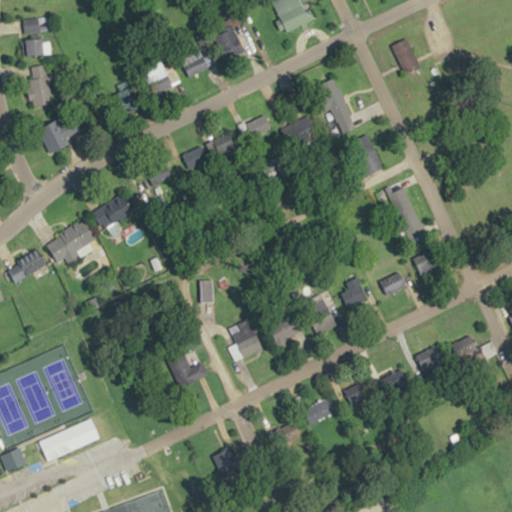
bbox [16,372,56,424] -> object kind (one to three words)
tennis court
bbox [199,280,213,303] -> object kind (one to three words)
building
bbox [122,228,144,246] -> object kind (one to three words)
swimming pool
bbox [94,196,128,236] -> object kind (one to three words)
house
